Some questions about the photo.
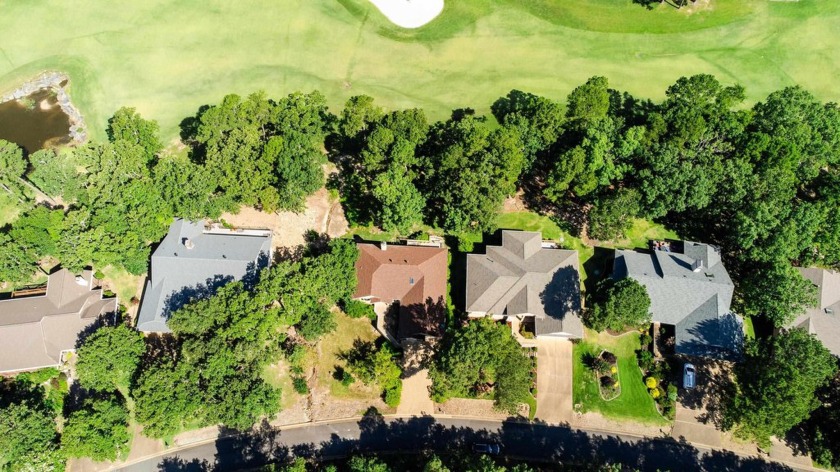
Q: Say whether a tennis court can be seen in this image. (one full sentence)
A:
No, the scene contains no tennis court.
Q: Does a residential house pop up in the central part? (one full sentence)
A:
Yes, in the central part there is a residential house.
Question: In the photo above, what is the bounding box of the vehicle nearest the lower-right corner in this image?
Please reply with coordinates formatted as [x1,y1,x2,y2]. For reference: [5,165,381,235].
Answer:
[682,362,696,391]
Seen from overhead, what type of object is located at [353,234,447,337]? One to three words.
house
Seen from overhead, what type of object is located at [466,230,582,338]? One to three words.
house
